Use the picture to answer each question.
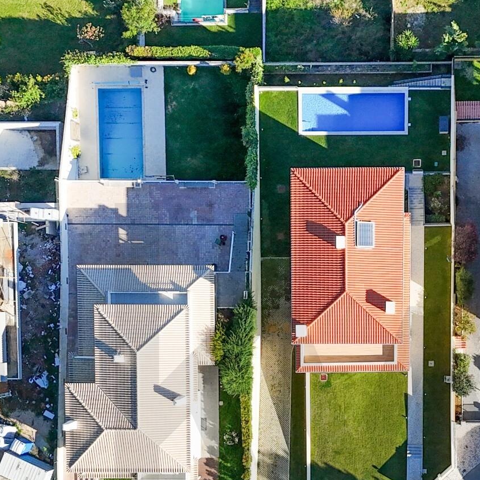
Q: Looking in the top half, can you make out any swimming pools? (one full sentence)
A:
Yes, a swimming pool can be seen in the top half.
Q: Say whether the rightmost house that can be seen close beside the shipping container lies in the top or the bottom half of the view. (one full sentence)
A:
The bottom half of the photo is where the rightmost house that can be seen close beside the shipping container is.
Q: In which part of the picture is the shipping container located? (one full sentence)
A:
You can find the shipping container in the bottom left area of the picture.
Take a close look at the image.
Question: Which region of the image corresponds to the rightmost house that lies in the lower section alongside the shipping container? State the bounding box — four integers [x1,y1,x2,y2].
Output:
[62,264,221,480]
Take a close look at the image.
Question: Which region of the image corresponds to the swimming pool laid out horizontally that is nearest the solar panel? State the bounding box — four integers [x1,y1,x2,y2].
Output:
[298,88,412,134]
